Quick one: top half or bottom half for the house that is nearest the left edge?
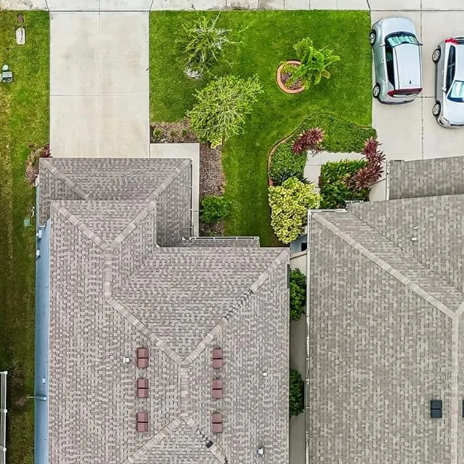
bottom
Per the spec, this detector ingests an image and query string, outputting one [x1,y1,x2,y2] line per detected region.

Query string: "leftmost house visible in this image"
[29,157,289,464]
